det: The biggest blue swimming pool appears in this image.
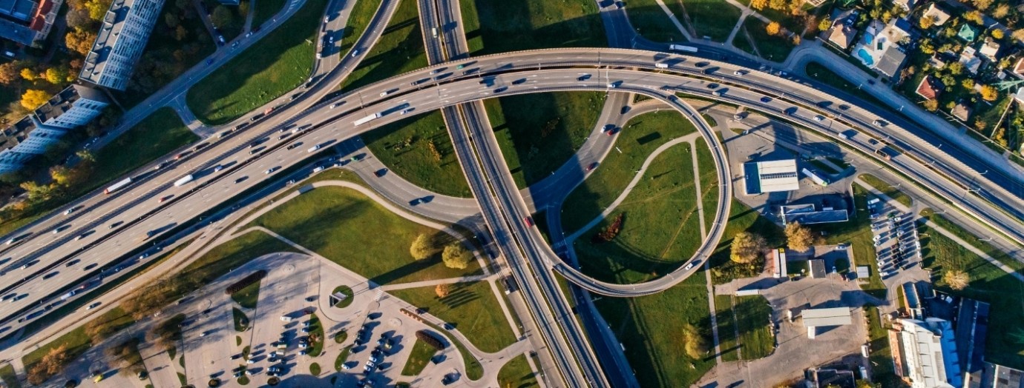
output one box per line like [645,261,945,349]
[858,48,874,65]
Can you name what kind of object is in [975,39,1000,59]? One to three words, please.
house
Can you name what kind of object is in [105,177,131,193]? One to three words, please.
vehicle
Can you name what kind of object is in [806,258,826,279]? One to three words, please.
shed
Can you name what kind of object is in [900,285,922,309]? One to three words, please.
building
